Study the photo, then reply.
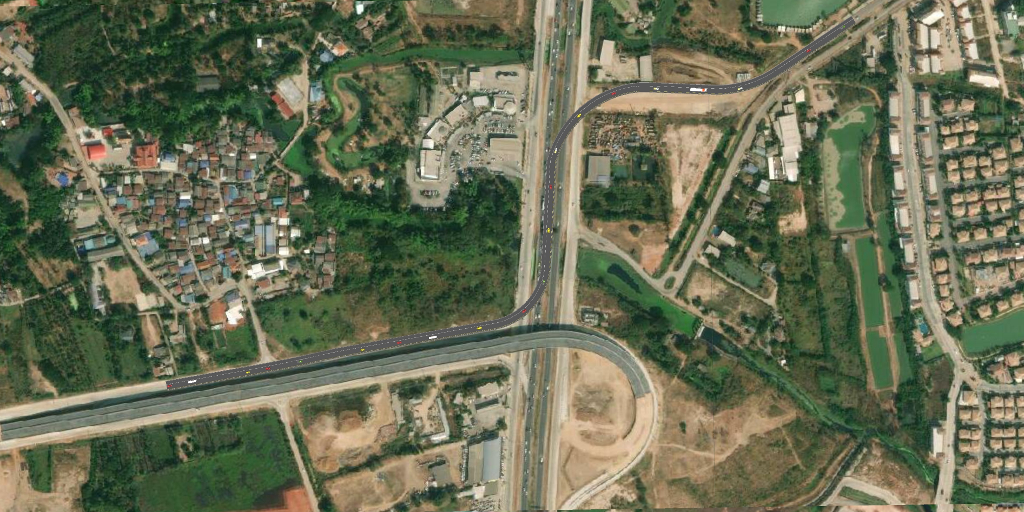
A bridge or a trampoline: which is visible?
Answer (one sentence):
It is a bridge that can be seen here.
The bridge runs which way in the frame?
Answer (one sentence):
From this overhead view, the bridge appears to run horizontally.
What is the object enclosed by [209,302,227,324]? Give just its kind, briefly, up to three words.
house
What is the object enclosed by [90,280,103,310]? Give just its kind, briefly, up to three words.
house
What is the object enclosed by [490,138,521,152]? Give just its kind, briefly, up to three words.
building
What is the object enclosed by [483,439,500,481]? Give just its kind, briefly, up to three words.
building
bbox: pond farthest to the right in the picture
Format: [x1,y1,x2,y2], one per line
[961,308,1024,353]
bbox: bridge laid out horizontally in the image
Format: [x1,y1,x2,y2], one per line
[1,331,651,441]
